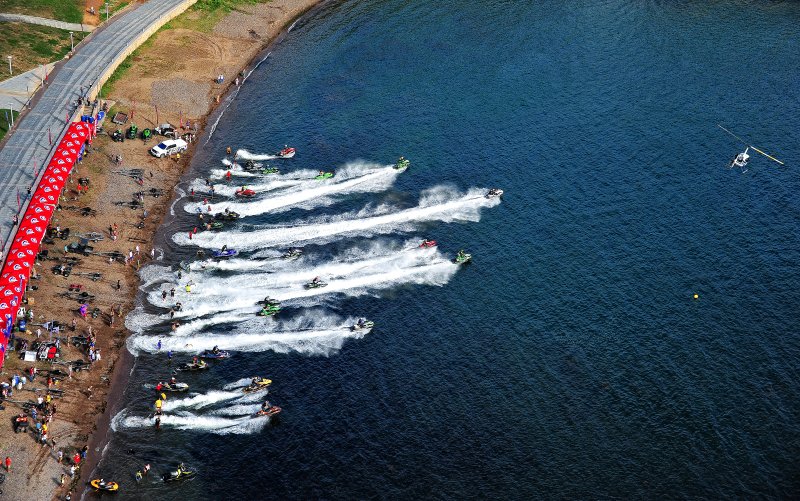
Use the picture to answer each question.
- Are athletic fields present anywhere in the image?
No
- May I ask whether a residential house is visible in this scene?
No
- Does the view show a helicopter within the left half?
No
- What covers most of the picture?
water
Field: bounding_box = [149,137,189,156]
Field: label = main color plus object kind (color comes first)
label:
white vehicle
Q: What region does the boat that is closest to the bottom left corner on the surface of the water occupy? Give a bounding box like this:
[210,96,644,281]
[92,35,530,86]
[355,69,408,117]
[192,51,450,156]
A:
[90,478,118,491]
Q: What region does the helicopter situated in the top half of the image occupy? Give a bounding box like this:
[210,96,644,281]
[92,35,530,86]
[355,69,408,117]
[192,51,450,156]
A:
[712,130,785,173]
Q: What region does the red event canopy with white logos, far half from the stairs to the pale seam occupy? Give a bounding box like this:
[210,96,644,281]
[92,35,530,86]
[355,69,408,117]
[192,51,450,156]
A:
[25,120,96,217]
